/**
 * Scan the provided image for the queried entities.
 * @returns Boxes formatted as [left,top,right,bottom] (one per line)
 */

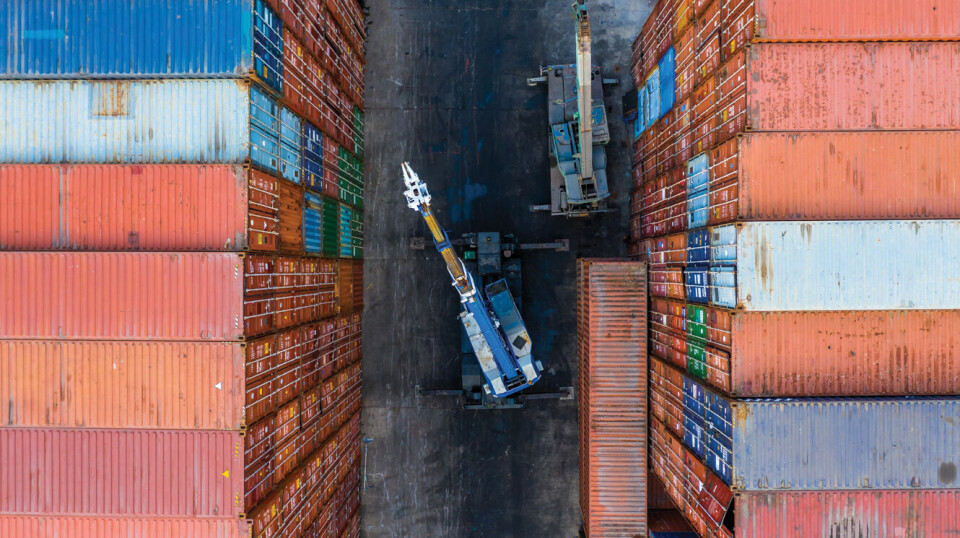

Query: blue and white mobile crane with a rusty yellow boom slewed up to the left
[397,165,574,409]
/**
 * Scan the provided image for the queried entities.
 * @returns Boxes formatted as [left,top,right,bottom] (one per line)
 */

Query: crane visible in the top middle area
[523,0,622,222]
